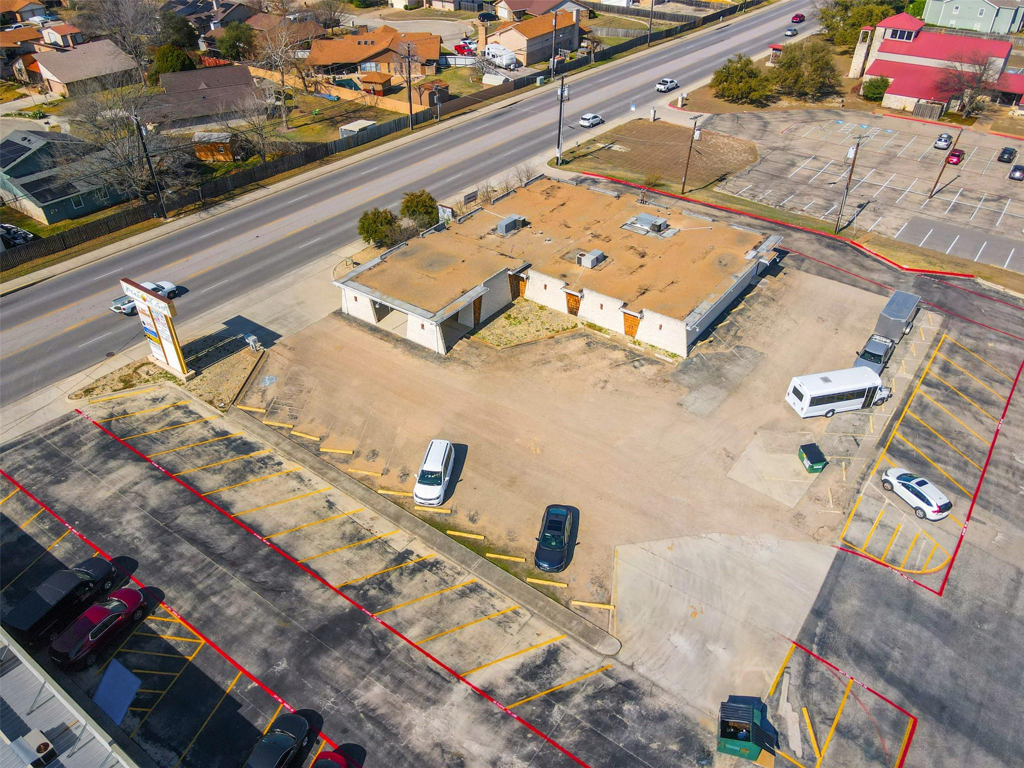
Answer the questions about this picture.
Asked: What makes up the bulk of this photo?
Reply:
paved ground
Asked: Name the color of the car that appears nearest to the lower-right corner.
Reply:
white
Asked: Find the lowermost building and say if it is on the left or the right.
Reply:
left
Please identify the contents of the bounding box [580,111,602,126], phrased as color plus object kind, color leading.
white car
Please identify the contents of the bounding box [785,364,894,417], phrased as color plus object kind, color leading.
white vehicle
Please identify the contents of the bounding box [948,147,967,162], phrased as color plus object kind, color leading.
red car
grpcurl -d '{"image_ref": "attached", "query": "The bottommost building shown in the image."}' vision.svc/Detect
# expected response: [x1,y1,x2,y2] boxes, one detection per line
[0,627,135,768]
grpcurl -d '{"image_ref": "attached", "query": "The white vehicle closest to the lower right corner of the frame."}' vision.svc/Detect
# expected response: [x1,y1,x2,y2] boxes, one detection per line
[883,469,952,523]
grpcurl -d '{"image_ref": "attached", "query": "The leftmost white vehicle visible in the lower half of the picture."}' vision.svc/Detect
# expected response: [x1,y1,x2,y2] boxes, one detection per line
[417,441,456,504]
